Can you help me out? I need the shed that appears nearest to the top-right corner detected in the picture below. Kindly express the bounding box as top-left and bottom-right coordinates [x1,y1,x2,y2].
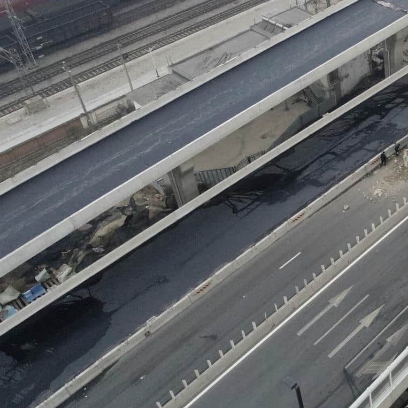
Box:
[273,5,316,27]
